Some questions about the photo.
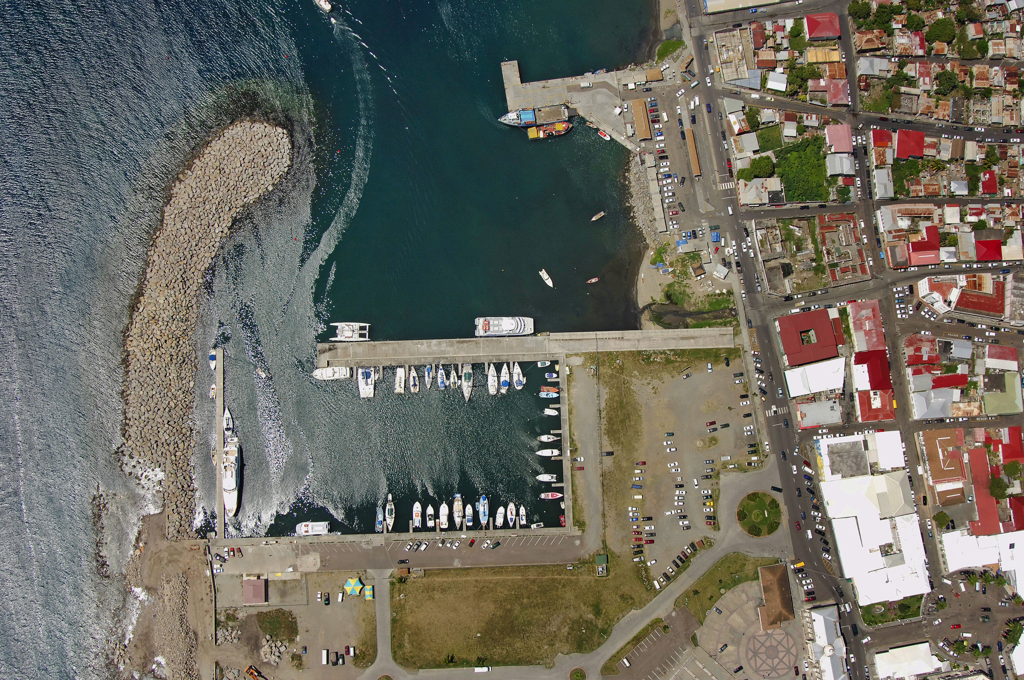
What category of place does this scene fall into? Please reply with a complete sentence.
This image shows a residential area.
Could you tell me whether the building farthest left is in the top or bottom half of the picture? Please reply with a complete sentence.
You can find the building farthest left in the bottom half.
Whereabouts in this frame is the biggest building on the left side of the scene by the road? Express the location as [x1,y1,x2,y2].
[243,578,266,603]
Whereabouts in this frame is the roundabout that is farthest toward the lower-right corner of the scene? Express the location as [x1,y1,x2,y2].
[736,492,782,537]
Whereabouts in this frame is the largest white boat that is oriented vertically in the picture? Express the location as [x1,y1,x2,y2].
[222,442,241,517]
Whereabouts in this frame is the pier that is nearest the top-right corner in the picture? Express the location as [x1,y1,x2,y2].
[501,61,641,152]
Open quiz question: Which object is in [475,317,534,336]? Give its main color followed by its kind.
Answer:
white ship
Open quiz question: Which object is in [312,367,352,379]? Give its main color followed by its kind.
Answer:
white boat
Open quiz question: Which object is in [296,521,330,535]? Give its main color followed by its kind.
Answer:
white boat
